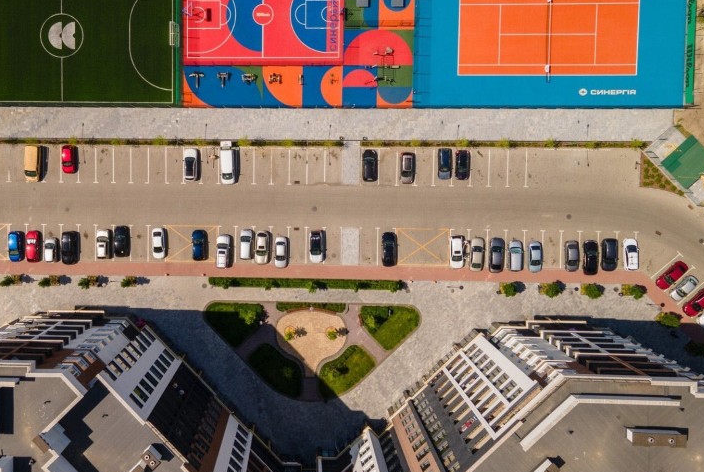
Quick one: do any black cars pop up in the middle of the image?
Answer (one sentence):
Yes, in the middle of the image there is a black car.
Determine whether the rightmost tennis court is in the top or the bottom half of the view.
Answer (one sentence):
Seen from above, the rightmost tennis court lies in the top half of the view.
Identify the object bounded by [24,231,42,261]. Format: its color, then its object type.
red car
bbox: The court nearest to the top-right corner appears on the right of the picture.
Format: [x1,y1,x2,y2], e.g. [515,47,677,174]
[415,0,687,107]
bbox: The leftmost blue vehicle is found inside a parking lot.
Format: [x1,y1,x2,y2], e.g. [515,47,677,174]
[7,232,24,261]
